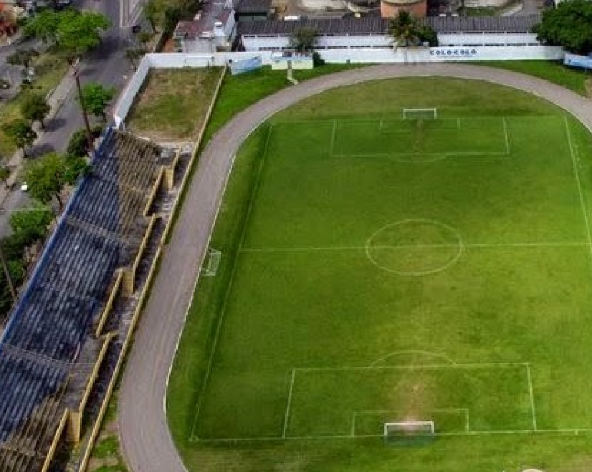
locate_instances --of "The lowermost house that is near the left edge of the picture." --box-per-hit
[0,22,28,40]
